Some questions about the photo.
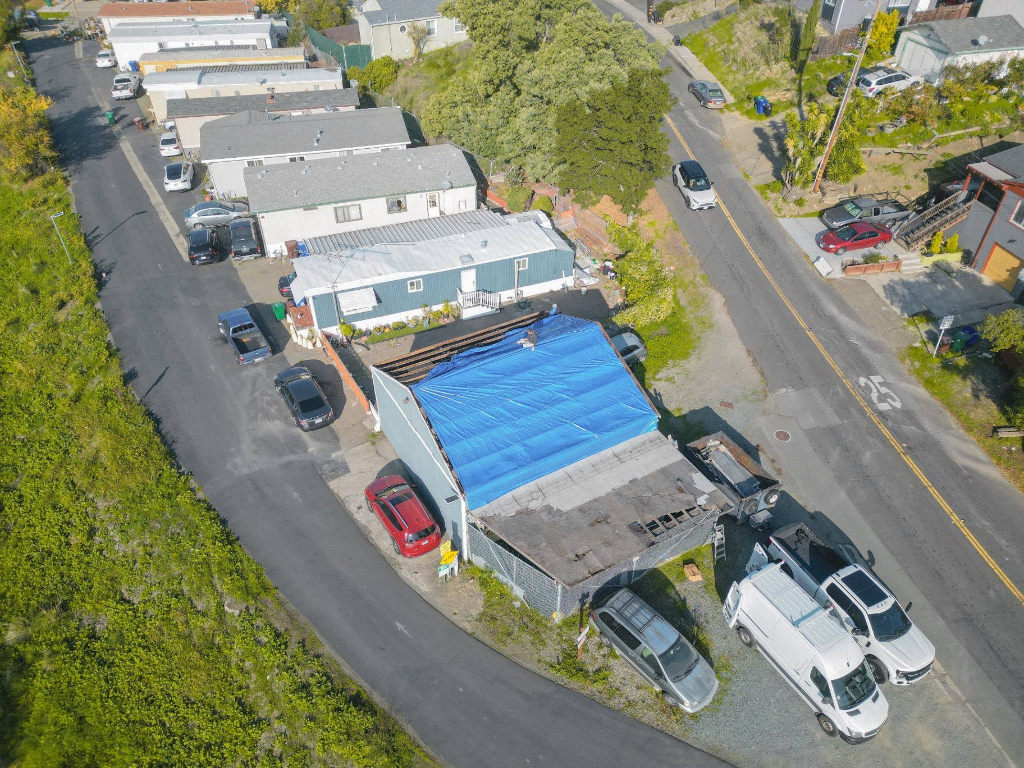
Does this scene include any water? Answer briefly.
No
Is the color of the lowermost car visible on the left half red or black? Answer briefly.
red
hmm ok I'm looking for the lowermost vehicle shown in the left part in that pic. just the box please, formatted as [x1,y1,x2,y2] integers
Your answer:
[362,471,444,566]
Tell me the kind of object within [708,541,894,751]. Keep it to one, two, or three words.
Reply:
van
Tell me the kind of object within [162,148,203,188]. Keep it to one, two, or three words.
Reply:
car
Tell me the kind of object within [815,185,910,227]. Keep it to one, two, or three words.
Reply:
truck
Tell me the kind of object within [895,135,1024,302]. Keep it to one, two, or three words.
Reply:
house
